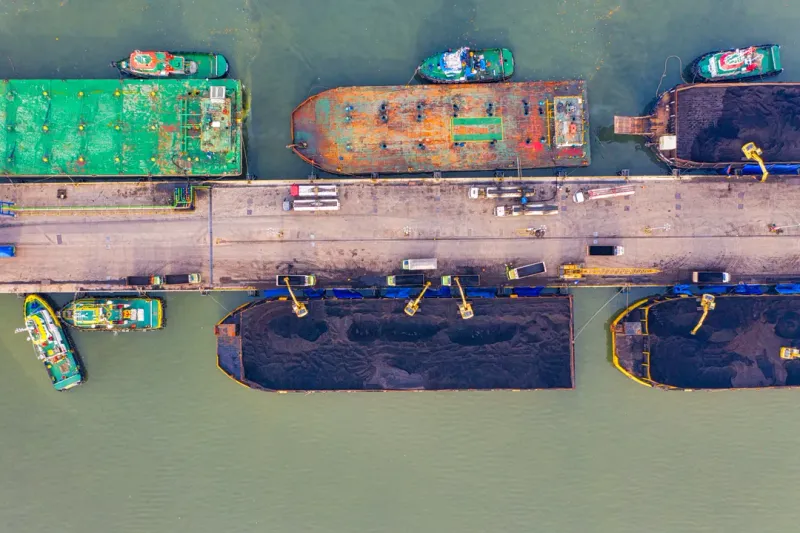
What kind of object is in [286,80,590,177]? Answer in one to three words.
ship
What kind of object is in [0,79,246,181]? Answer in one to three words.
ship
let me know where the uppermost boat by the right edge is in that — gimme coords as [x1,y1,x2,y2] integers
[683,41,786,83]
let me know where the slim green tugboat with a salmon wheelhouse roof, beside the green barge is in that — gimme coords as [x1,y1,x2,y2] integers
[109,50,232,79]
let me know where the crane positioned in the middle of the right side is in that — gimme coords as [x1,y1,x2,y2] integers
[556,263,662,280]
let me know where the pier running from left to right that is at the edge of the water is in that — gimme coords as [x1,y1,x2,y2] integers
[0,173,800,297]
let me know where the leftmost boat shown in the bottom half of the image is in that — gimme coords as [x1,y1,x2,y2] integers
[12,292,87,390]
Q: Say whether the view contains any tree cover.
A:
No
